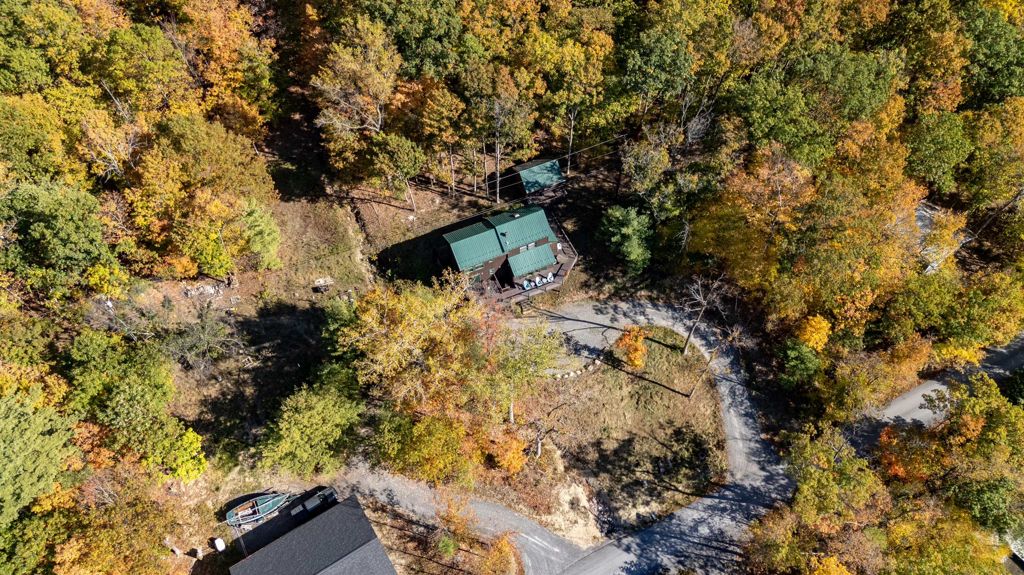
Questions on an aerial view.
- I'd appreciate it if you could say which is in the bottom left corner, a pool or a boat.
boat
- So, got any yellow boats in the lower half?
No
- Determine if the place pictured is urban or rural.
rural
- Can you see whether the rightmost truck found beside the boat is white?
No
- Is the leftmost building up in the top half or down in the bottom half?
bottom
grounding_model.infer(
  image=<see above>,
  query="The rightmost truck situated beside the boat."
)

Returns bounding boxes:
[288,485,342,525]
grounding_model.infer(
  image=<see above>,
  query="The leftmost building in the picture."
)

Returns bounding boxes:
[229,494,400,575]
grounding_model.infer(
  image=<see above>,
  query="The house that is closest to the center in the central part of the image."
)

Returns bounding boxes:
[432,204,578,319]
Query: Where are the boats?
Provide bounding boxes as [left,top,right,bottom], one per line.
[214,490,299,527]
